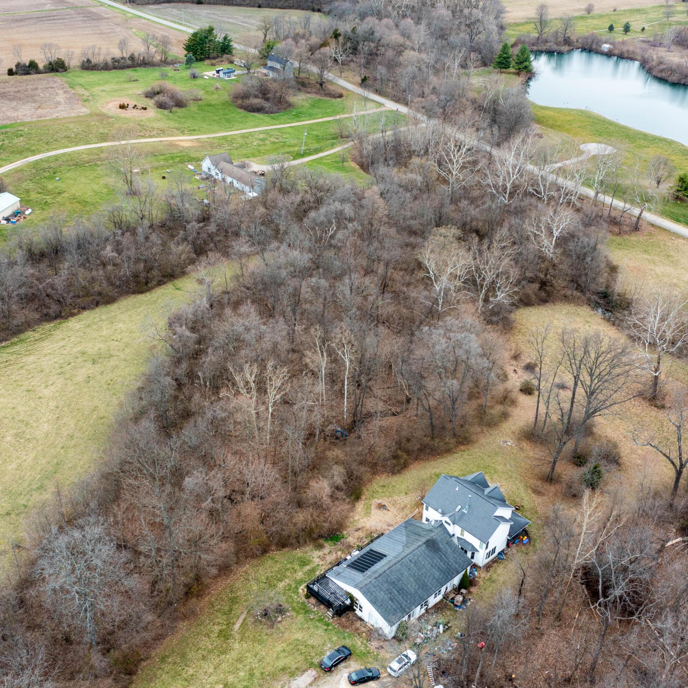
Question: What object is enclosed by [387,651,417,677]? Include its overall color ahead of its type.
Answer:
white car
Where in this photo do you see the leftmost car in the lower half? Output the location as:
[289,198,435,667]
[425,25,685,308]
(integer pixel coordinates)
[320,647,351,673]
